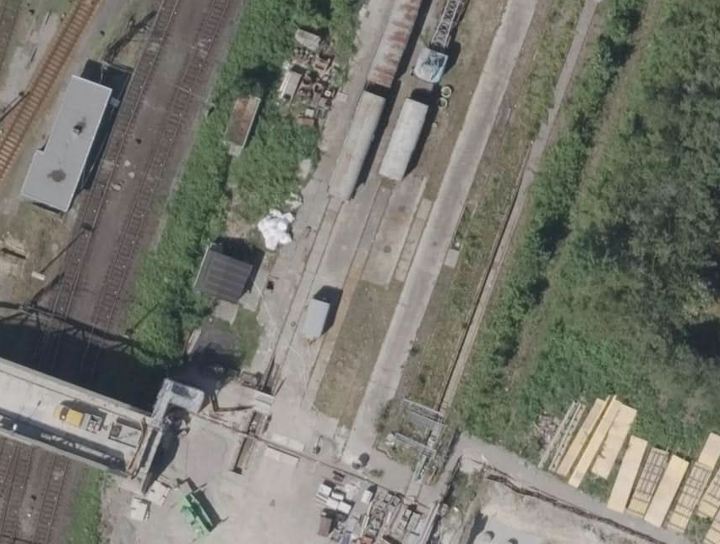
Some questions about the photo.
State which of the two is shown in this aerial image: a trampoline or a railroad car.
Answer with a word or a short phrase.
railroad car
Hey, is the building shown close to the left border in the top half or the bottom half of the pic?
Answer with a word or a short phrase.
top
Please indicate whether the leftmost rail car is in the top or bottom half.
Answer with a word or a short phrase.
top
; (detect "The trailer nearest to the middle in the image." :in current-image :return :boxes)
[301,298,328,348]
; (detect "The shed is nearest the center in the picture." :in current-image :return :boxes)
[194,247,253,300]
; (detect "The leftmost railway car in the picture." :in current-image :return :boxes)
[326,89,384,203]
